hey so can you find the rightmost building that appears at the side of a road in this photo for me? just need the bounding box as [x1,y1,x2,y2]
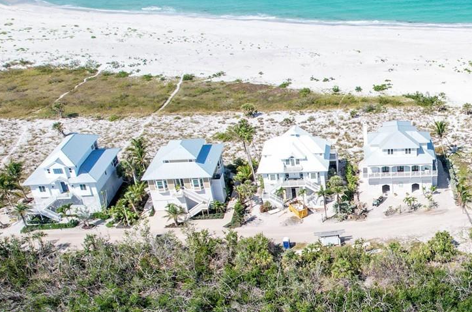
[362,122,441,194]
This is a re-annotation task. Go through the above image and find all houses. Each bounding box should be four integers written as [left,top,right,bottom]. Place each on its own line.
[362,122,441,194]
[255,126,345,218]
[22,126,123,228]
[141,136,235,222]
